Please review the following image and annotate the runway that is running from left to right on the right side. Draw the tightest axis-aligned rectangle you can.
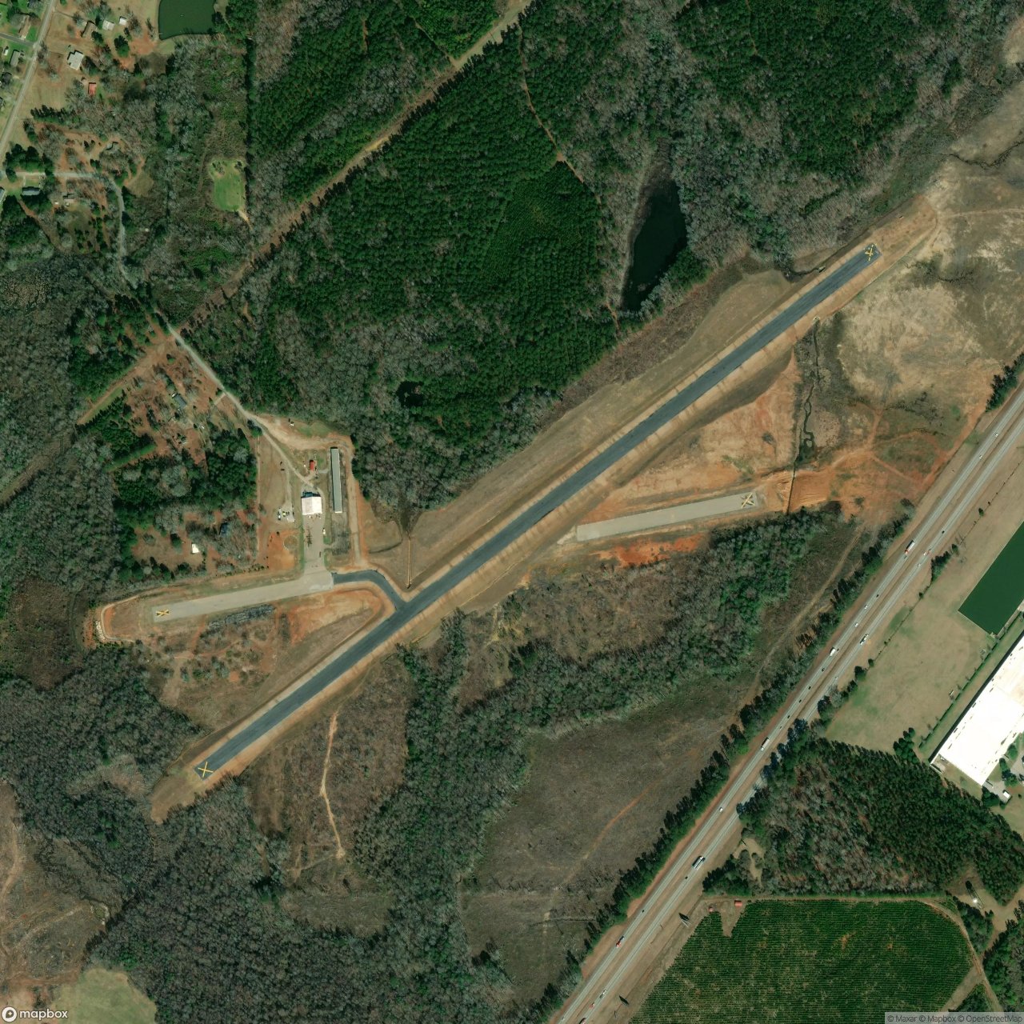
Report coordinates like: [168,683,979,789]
[577,492,757,541]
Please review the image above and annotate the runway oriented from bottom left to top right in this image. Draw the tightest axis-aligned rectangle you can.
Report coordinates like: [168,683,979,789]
[194,245,880,780]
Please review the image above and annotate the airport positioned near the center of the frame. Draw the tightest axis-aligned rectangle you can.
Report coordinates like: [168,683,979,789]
[152,244,880,780]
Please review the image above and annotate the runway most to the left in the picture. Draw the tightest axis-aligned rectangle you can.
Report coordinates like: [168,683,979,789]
[152,587,264,622]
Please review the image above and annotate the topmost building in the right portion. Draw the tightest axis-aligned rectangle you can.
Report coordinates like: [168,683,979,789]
[930,642,1024,789]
